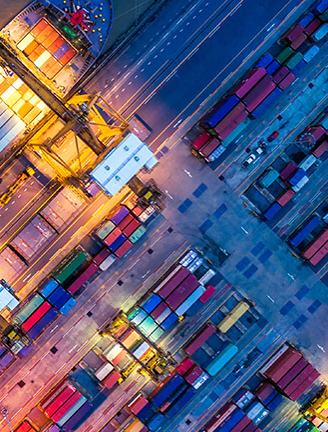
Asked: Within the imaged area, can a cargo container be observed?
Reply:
Yes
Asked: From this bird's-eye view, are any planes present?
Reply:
No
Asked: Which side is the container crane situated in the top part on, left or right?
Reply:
left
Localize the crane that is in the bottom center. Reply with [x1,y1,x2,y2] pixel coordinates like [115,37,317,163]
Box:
[98,310,179,386]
